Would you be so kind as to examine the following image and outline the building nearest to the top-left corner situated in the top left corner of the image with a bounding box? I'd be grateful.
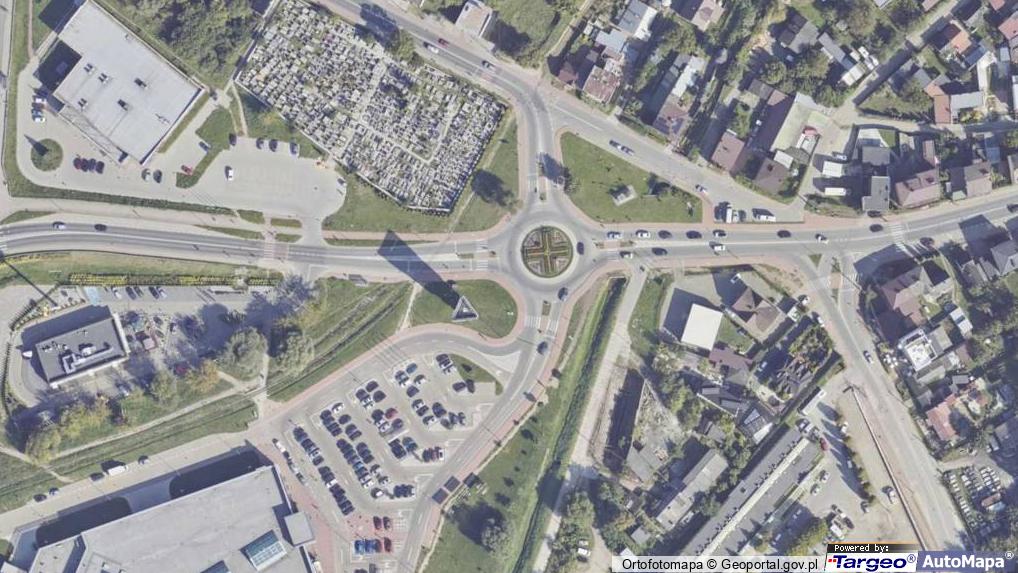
[54,0,206,166]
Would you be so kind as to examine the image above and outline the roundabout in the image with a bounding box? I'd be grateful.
[501,205,593,297]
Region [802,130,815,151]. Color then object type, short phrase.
white vehicle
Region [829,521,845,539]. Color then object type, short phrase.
white vehicle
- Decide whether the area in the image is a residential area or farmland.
residential area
